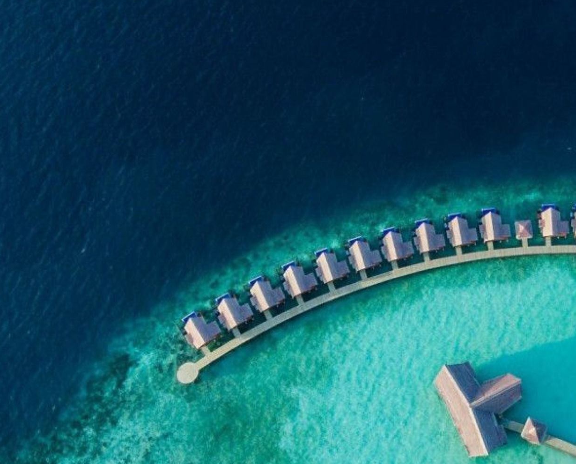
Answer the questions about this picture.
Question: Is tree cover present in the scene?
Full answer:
No, there is no tree cover in the image.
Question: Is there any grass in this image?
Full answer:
No, no grass is visible.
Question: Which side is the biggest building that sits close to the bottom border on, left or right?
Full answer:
The biggest building that sits close to the bottom border is on the right side of the image.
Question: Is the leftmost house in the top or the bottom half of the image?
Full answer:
You can find the leftmost house in the bottom half.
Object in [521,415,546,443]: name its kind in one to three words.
building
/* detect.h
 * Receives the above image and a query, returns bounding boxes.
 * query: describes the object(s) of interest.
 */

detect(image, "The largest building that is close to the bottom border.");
[434,360,522,456]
